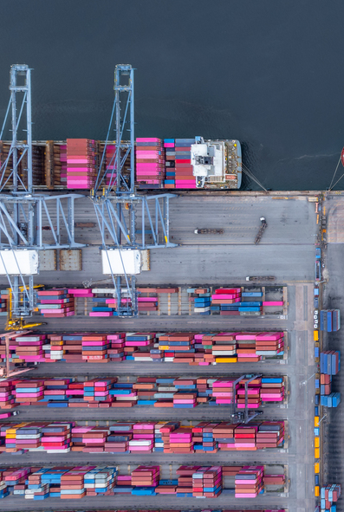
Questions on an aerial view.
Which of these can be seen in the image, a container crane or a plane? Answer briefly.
container crane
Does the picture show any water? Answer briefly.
Yes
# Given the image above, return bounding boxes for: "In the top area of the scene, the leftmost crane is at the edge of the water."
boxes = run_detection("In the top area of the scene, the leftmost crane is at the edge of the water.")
[0,63,99,320]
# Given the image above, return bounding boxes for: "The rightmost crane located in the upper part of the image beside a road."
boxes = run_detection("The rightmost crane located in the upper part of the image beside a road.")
[83,63,192,319]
